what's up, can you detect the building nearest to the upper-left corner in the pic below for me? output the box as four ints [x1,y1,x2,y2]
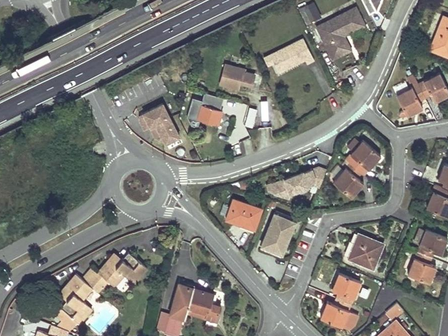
[139,105,181,146]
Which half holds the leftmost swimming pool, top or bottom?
bottom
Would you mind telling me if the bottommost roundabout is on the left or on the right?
left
